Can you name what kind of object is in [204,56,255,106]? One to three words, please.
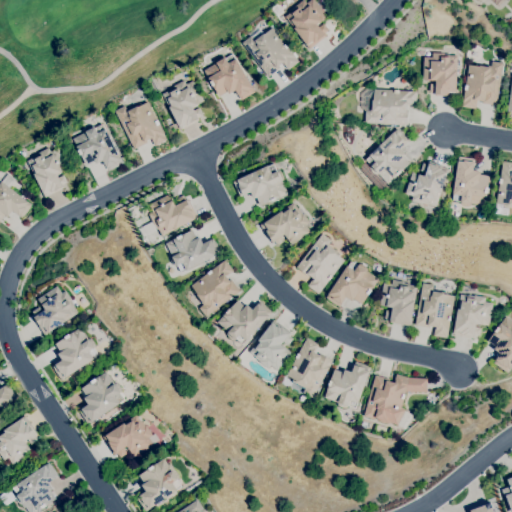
house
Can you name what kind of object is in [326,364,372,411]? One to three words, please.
house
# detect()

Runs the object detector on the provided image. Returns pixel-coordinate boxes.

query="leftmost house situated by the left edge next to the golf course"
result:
[0,173,32,222]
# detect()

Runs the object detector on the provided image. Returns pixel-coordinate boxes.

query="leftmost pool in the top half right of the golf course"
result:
[382,68,400,83]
